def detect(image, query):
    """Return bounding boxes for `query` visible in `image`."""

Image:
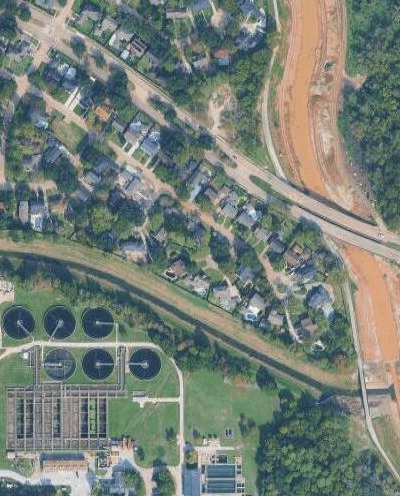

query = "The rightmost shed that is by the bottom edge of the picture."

[183,468,200,496]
